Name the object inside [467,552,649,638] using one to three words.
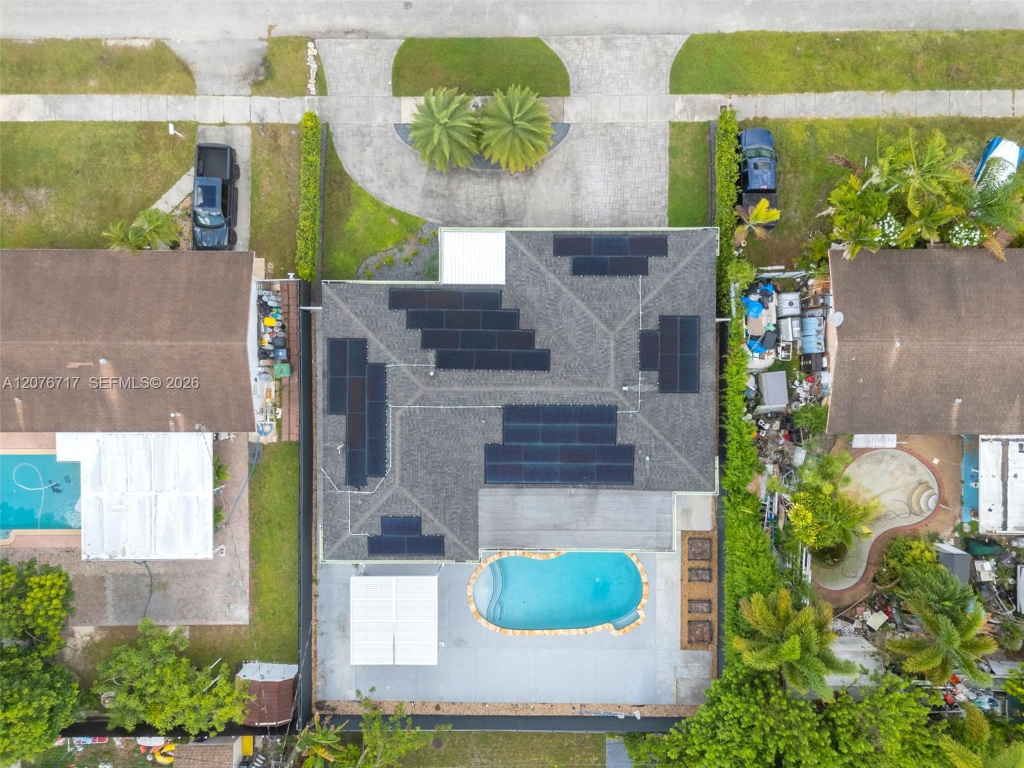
swimming pool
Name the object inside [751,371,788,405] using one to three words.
shed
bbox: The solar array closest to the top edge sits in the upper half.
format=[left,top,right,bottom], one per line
[554,236,668,277]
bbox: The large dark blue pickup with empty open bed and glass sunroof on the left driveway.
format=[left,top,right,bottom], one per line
[190,144,244,250]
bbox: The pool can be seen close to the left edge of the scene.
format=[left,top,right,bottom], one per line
[0,454,80,540]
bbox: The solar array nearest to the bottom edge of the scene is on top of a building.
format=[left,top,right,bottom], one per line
[368,515,444,556]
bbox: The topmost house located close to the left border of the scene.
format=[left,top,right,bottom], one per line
[0,250,261,433]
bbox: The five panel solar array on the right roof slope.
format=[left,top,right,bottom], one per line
[638,316,699,393]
